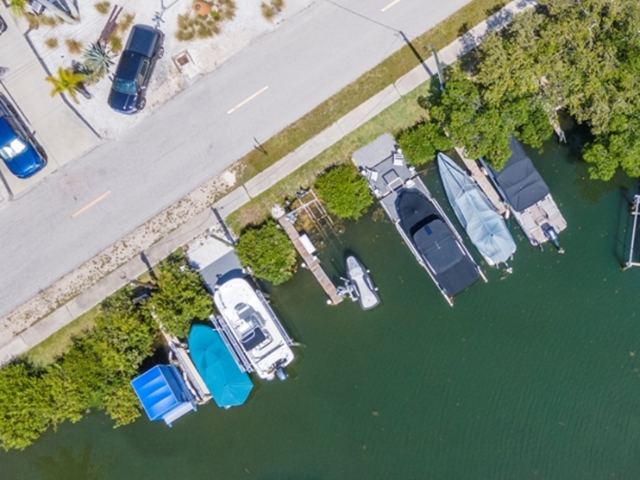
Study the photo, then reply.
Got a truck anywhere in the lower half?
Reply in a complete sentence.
No, I can find no truck in the lower half.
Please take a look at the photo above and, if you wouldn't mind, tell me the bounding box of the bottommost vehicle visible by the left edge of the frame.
[0,96,49,180]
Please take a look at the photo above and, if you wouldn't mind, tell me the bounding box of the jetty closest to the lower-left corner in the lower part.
[170,330,209,407]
